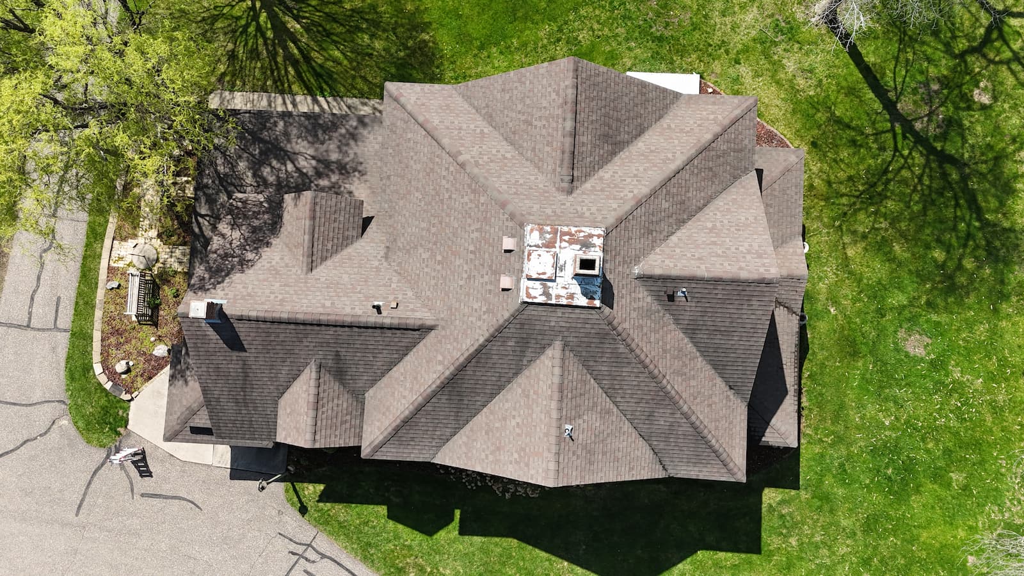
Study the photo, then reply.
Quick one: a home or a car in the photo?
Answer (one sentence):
The image shows a home.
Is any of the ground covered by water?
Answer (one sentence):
No, the picture contains no water.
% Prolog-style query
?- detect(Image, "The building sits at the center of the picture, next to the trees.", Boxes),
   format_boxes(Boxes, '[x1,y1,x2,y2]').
[163,54,814,488]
